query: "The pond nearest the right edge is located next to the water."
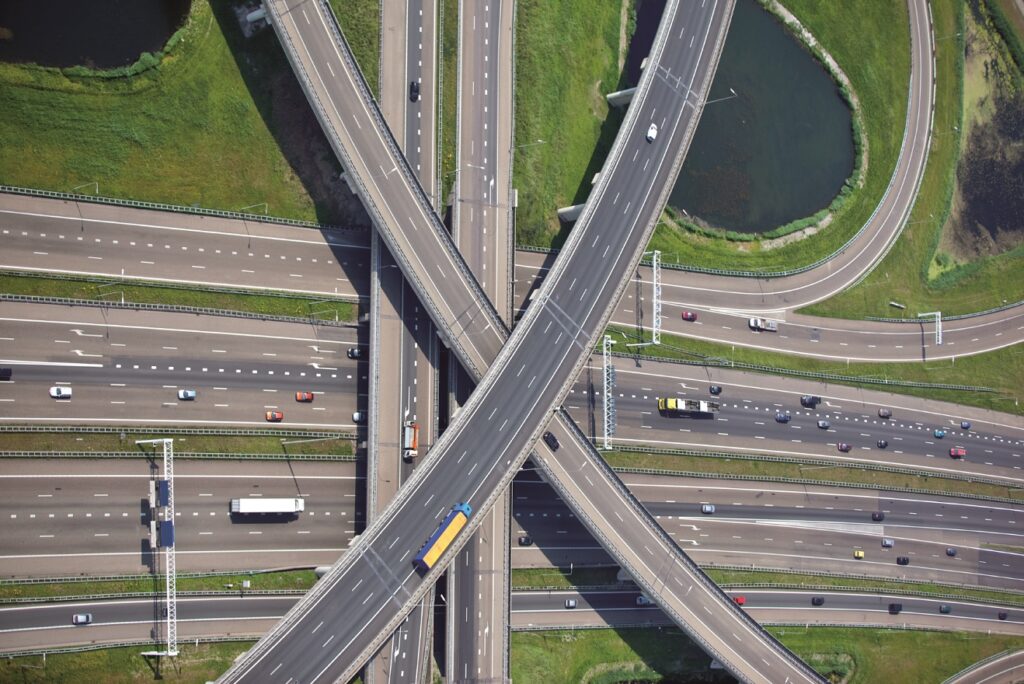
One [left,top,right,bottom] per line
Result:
[931,0,1024,277]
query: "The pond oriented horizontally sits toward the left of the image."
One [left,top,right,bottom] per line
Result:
[0,0,189,76]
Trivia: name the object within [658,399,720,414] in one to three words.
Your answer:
vehicle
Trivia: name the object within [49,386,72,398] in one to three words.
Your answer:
vehicle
